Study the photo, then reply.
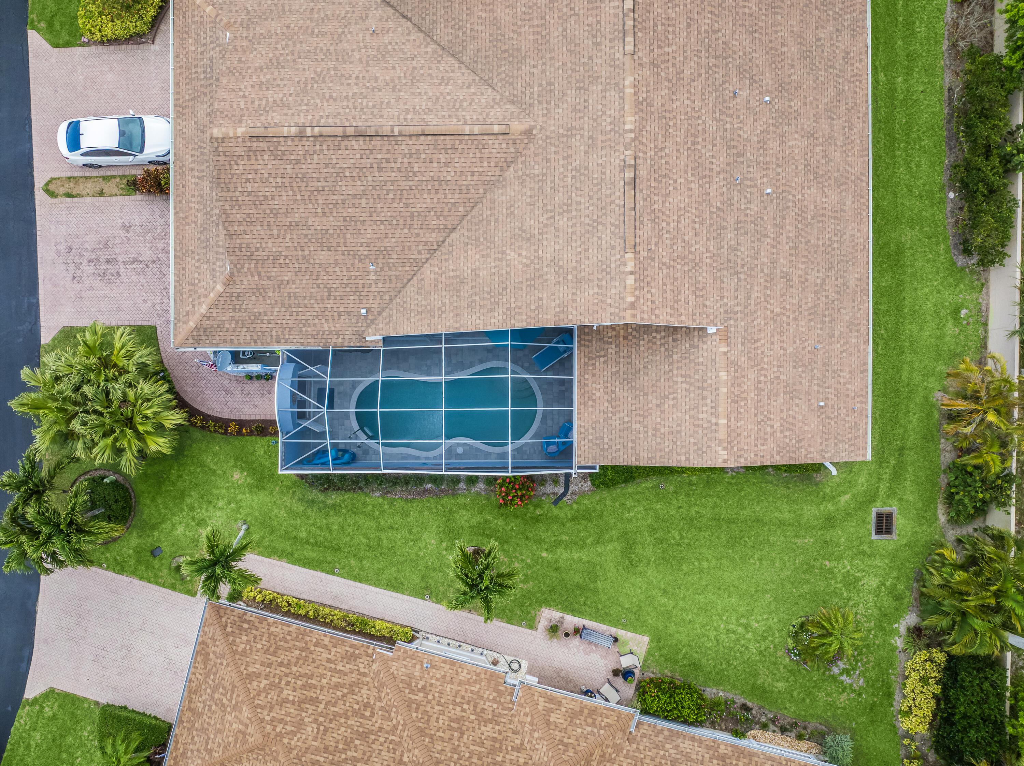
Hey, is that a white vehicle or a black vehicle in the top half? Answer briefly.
white vehicle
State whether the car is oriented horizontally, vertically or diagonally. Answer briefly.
horizontally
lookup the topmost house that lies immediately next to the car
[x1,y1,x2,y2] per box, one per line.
[170,0,871,471]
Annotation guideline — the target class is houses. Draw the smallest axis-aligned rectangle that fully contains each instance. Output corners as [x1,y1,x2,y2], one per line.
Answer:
[170,0,871,471]
[162,598,841,766]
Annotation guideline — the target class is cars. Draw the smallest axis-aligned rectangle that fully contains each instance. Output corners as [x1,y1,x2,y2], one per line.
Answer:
[54,107,170,168]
